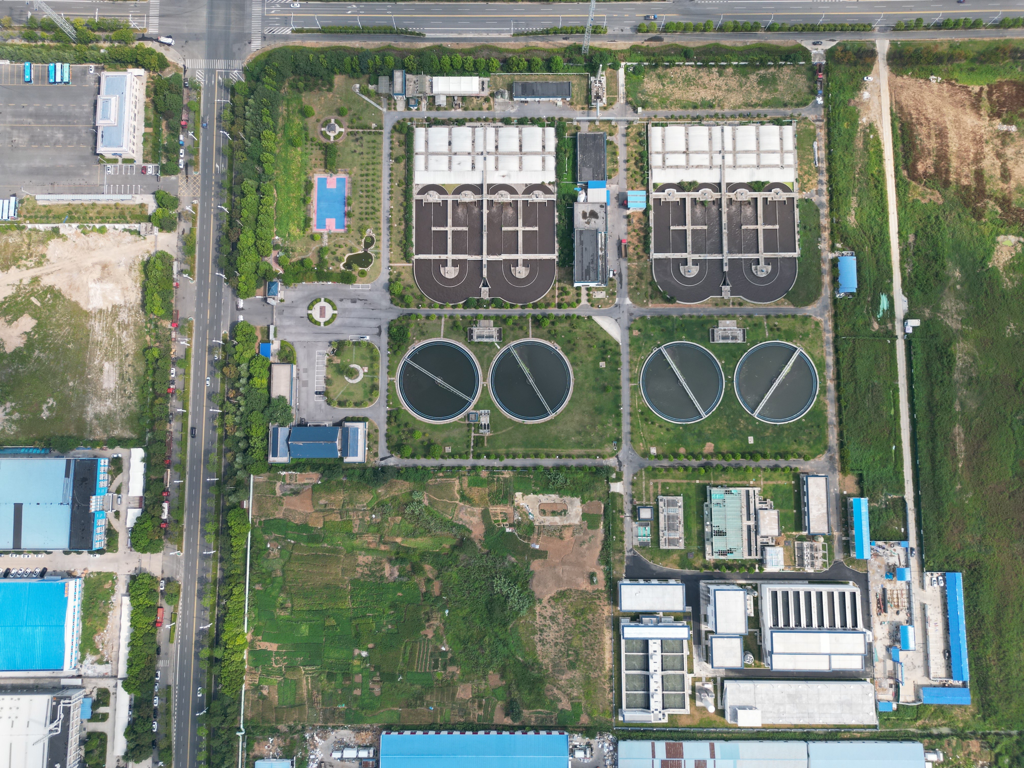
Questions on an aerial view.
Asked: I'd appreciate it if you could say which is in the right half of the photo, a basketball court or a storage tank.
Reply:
storage tank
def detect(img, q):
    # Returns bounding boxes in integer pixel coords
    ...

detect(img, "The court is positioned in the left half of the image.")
[313,174,349,232]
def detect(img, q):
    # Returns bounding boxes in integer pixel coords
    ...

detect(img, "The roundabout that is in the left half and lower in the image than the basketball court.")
[308,297,337,327]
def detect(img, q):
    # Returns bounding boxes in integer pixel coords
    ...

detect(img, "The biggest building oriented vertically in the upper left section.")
[97,72,138,159]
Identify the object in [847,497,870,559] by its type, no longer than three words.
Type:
shed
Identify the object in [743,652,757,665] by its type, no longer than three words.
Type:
cooling tower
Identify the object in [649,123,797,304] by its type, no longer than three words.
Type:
storage tank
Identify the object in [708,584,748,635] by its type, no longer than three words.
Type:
building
